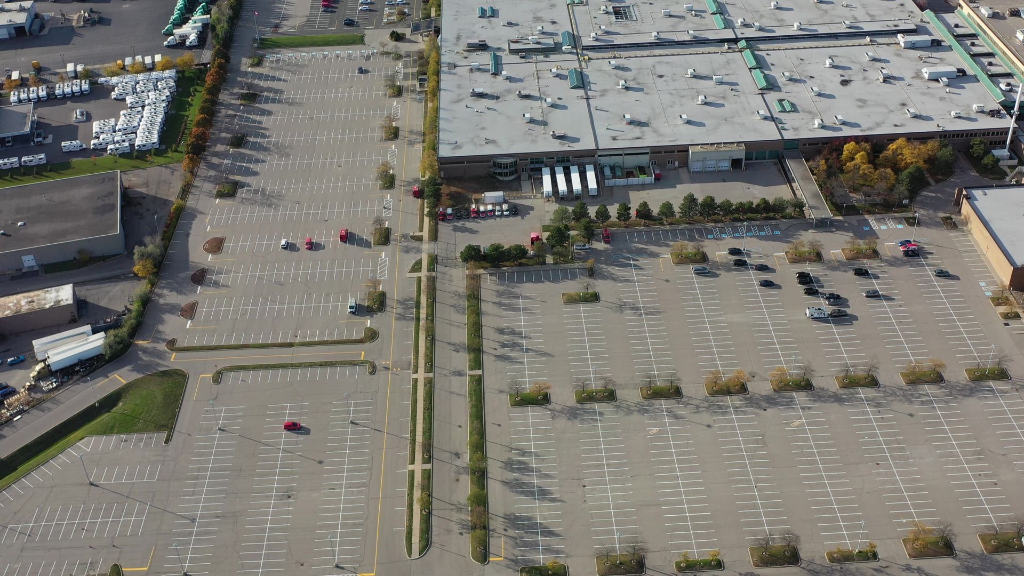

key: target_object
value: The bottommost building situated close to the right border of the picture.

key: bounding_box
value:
[962,184,1024,289]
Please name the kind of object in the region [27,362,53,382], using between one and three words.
vehicle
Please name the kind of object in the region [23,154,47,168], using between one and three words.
camper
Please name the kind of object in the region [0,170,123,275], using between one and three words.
building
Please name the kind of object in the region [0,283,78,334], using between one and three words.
shed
